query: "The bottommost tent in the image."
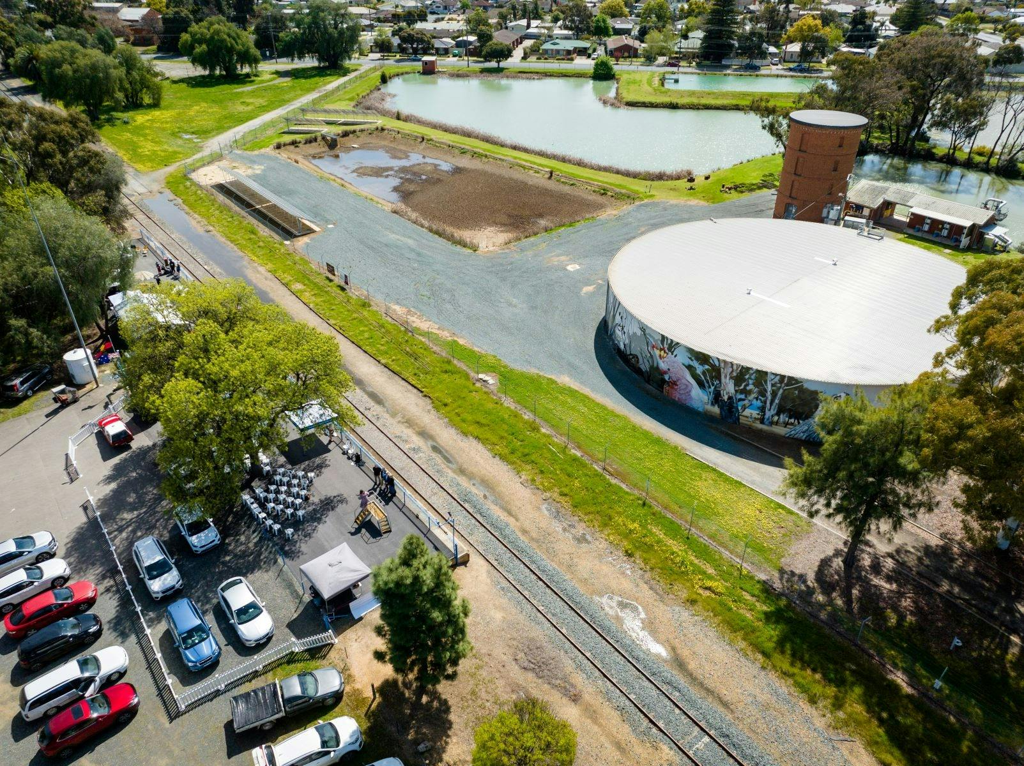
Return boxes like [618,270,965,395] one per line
[300,543,373,625]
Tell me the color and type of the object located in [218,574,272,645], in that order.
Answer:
white car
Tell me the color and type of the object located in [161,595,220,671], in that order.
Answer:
blue car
